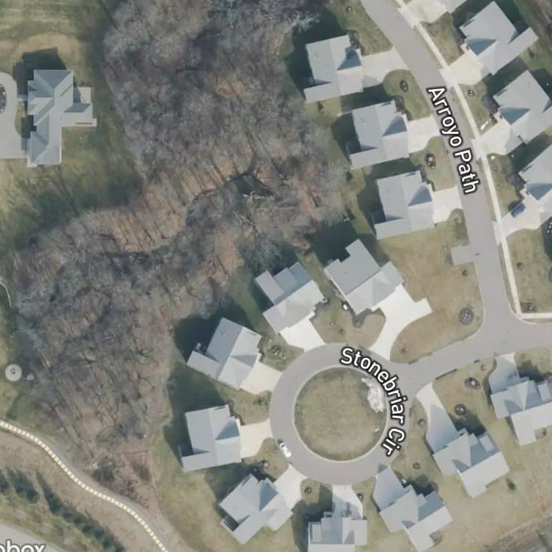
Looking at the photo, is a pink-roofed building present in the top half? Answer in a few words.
No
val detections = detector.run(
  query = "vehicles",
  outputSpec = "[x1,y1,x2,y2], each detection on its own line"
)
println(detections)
[278,442,291,458]
[510,200,527,216]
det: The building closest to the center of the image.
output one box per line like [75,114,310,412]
[249,262,321,331]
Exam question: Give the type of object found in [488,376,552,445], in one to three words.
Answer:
house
